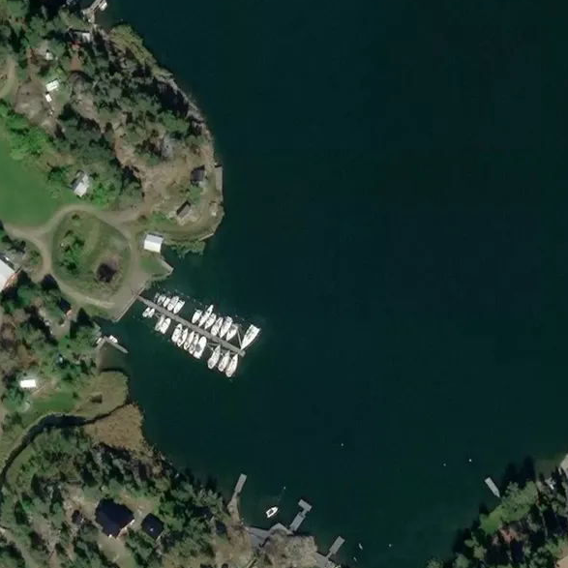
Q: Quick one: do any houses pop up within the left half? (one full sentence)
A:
Yes, the scene does show a house within the left half.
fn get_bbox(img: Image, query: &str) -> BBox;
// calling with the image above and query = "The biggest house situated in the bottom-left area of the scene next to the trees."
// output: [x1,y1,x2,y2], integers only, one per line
[95,497,136,536]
